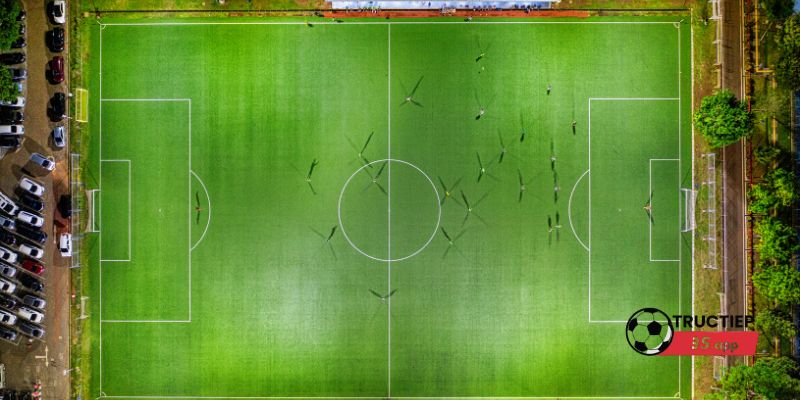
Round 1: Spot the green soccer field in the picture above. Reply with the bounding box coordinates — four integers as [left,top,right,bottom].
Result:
[89,16,692,400]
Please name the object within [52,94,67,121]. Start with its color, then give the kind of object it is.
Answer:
black vehicle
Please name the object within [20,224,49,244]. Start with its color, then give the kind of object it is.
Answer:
black car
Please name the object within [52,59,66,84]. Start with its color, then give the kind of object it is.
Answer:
red car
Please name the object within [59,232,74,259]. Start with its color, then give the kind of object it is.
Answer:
white vehicle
